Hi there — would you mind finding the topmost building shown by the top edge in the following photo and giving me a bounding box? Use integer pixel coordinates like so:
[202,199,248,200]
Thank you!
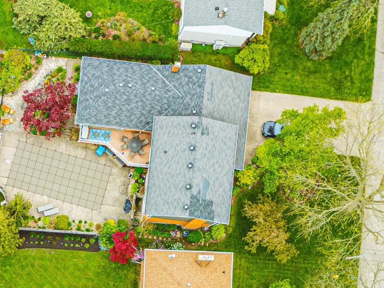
[178,0,267,45]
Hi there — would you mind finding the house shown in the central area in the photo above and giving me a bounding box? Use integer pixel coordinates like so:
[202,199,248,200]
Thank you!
[75,51,253,235]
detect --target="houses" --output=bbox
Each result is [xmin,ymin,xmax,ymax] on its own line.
[138,249,234,288]
[178,0,267,45]
[75,51,253,235]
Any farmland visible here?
No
